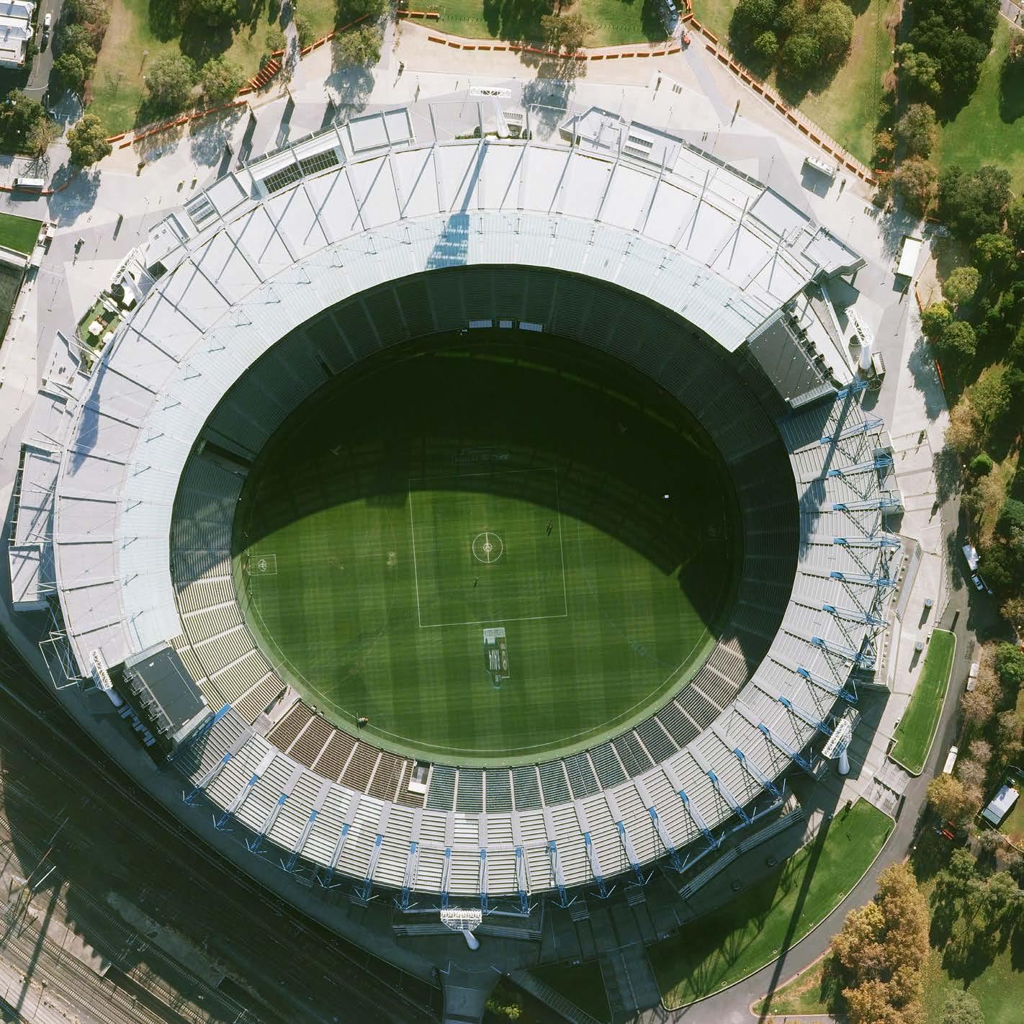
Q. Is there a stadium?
Yes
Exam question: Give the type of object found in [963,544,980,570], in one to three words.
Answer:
vehicle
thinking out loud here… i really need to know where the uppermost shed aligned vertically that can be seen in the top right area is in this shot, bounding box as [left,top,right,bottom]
[897,237,922,278]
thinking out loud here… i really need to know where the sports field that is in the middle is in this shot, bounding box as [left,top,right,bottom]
[231,327,743,767]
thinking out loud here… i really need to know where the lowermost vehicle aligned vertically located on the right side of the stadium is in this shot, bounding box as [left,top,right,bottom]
[944,747,957,774]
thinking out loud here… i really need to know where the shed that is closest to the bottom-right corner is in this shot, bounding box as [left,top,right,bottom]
[983,783,1021,826]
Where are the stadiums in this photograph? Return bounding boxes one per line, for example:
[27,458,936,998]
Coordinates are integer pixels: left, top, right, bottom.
[7,97,902,914]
